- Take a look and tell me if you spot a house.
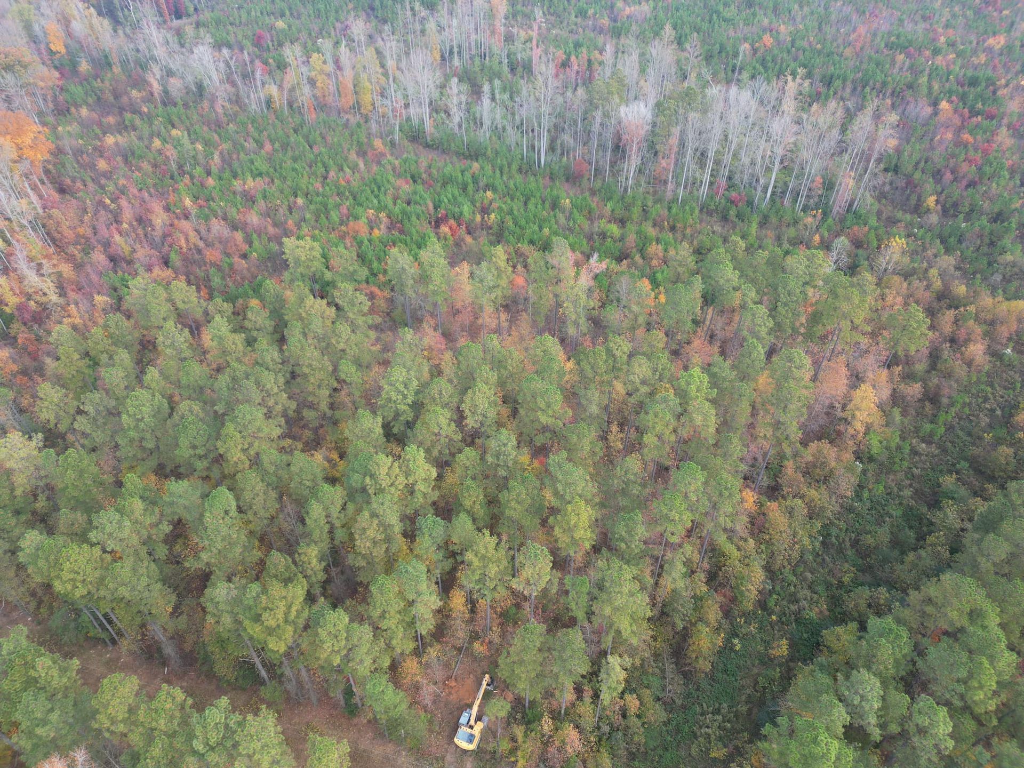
No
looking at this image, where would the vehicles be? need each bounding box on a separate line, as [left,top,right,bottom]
[453,672,500,757]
